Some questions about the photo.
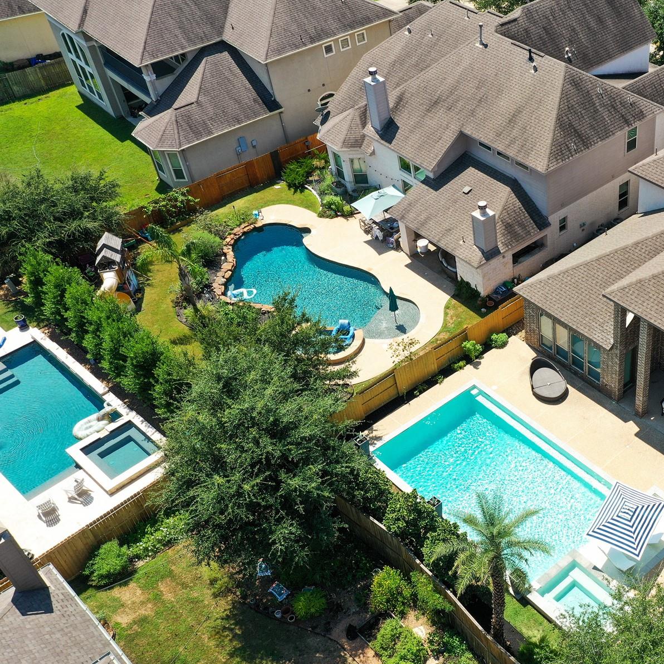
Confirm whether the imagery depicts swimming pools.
Yes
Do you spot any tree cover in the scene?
Yes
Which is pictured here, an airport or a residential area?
residential area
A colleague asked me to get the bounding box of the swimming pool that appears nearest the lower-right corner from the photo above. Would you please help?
[362,378,664,645]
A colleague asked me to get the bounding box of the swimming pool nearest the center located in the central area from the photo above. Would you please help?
[226,219,424,357]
